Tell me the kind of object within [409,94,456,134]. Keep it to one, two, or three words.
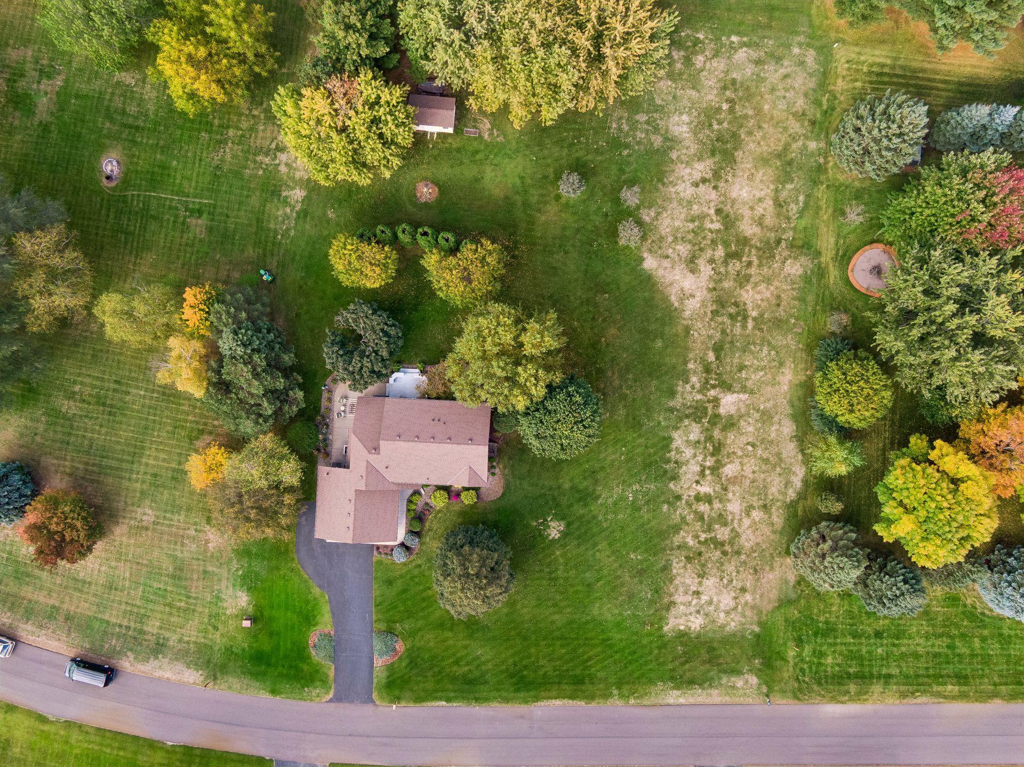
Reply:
shed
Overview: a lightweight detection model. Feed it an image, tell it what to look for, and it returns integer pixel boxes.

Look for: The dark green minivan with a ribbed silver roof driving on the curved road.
[64,658,117,691]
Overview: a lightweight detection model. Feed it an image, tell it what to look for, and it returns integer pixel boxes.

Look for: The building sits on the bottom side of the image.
[314,396,491,544]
